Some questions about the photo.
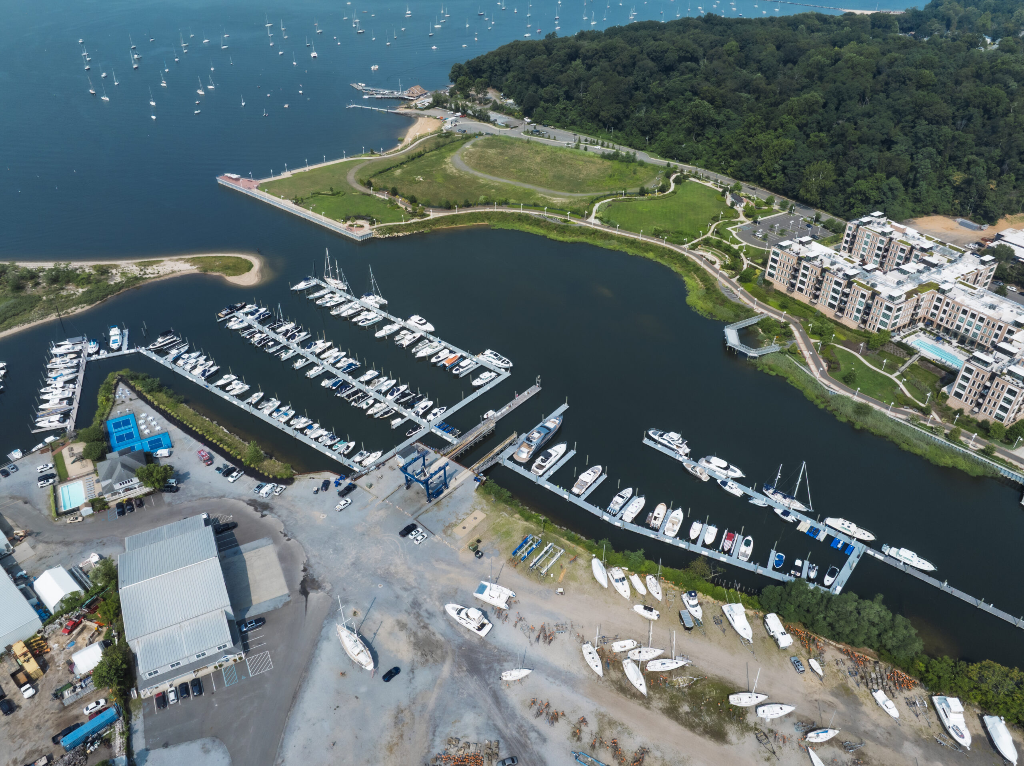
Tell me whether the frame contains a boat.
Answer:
Yes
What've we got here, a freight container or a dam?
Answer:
freight container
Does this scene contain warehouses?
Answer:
Yes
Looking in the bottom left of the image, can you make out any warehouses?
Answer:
Yes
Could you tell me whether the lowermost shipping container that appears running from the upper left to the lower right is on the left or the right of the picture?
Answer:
left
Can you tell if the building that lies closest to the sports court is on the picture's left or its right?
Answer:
left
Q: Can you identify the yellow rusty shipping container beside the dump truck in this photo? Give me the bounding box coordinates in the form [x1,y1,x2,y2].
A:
[16,647,48,686]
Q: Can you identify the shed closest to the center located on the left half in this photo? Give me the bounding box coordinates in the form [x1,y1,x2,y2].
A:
[395,445,420,466]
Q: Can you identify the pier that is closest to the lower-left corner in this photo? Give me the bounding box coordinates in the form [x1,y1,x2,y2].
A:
[31,342,89,434]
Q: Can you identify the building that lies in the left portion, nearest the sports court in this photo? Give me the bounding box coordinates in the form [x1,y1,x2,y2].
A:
[104,450,154,509]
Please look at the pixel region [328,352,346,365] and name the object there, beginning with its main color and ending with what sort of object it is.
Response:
white boat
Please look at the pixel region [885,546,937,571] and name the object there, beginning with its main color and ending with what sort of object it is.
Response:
white boat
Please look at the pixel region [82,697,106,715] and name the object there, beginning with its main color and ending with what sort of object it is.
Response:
white car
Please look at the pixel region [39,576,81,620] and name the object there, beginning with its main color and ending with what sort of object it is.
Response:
white tent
